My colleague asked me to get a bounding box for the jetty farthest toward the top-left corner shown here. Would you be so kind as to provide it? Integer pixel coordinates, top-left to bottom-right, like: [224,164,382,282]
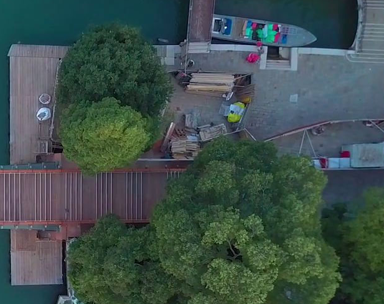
[9,55,61,164]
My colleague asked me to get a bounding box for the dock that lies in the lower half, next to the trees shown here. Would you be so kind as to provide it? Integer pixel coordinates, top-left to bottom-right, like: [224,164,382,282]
[9,232,63,284]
